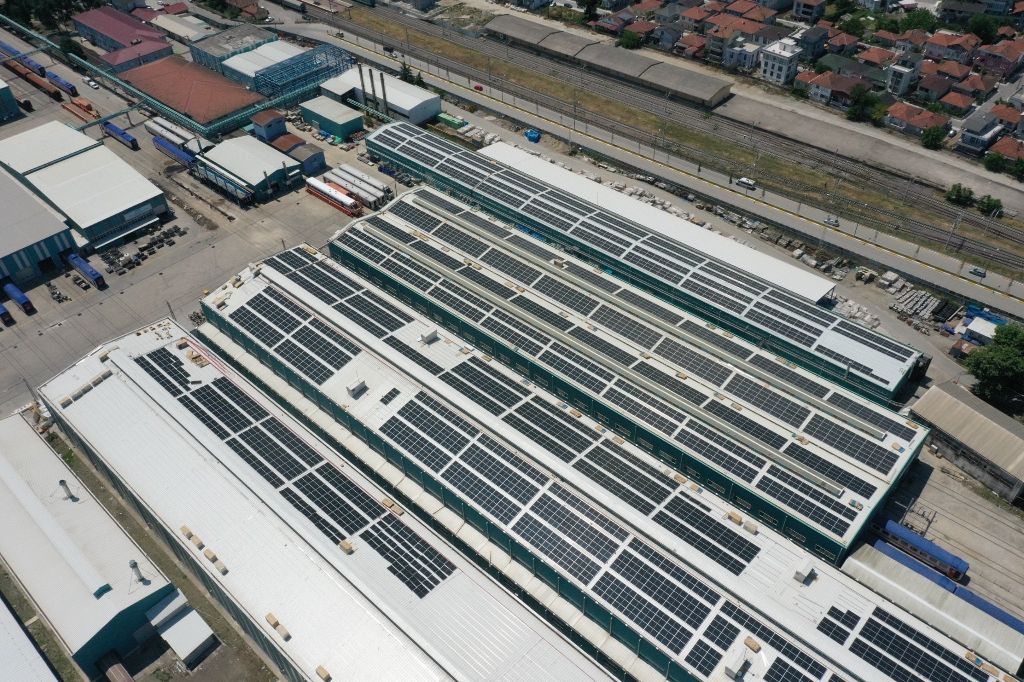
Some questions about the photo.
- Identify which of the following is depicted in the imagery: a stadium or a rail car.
rail car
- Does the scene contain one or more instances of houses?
Yes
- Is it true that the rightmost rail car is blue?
Yes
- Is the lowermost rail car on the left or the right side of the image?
left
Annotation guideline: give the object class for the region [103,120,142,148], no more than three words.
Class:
rail car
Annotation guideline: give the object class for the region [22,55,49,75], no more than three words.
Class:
rail car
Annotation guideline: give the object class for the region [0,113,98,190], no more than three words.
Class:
building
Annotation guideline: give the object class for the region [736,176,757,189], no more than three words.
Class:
vehicle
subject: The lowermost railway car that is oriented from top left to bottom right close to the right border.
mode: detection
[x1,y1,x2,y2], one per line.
[958,585,1024,637]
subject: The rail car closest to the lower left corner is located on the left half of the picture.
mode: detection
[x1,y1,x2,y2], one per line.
[101,646,143,682]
